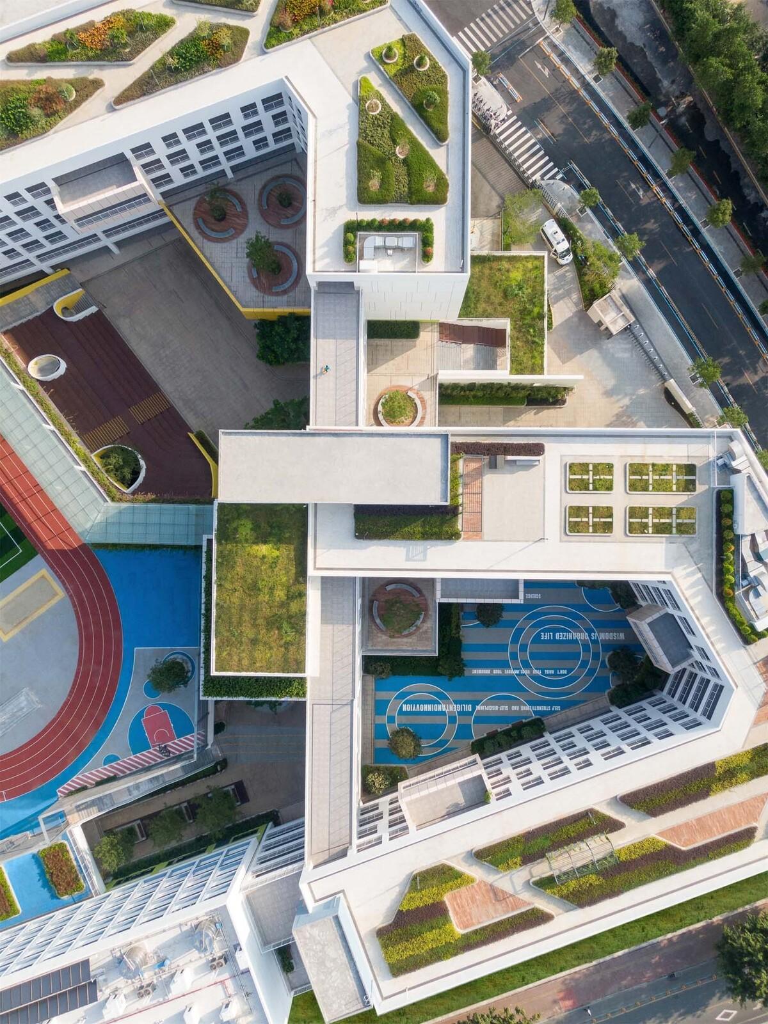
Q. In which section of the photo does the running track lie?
left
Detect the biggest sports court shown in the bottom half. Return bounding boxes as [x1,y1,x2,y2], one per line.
[376,580,657,764]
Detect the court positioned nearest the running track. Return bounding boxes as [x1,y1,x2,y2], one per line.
[82,647,201,774]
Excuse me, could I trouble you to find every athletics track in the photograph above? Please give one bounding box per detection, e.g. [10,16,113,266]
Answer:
[0,433,124,803]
